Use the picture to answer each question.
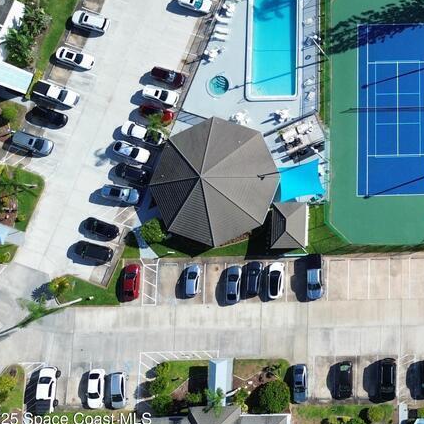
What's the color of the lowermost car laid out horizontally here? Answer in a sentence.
In this view, the lowermost car laid out horizontally is black.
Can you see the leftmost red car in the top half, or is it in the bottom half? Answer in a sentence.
The leftmost red car is in the bottom half of the image.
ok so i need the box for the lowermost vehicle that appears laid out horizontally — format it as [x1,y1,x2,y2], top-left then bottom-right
[74,240,116,262]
